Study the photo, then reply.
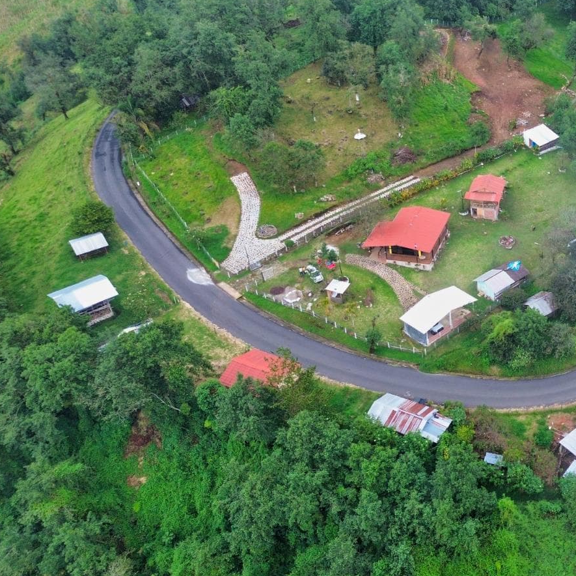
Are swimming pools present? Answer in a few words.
No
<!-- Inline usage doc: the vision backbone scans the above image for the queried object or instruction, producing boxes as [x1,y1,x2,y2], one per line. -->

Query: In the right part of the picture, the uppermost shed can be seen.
[523,124,559,154]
